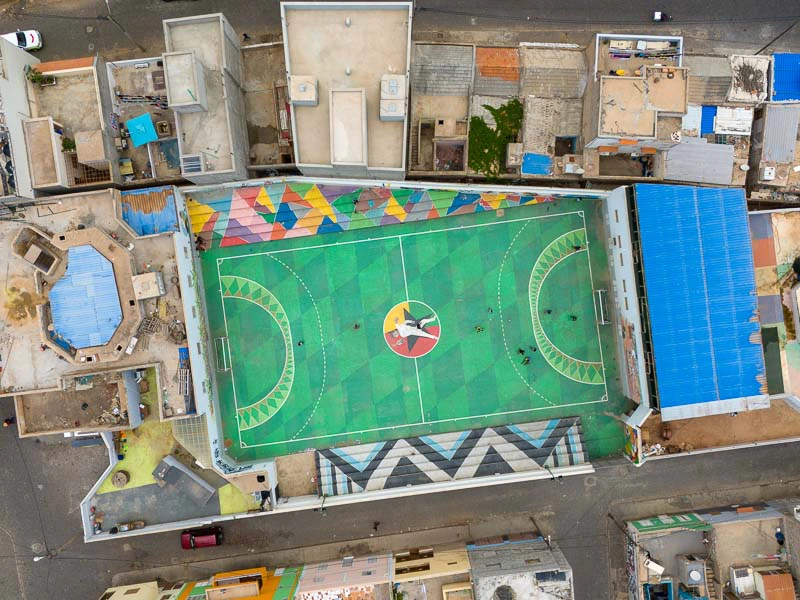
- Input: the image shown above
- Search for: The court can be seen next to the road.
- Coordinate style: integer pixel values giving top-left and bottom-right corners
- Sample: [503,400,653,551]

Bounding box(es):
[200,197,632,467]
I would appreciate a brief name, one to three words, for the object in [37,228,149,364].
building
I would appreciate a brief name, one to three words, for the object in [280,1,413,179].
house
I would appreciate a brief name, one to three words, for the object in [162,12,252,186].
house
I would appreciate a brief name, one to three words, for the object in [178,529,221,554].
car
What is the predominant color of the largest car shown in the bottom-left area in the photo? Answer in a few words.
red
